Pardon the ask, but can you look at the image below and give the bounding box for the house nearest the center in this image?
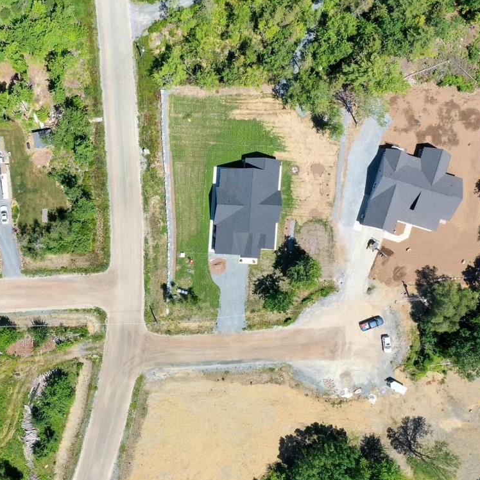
[213,157,283,263]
